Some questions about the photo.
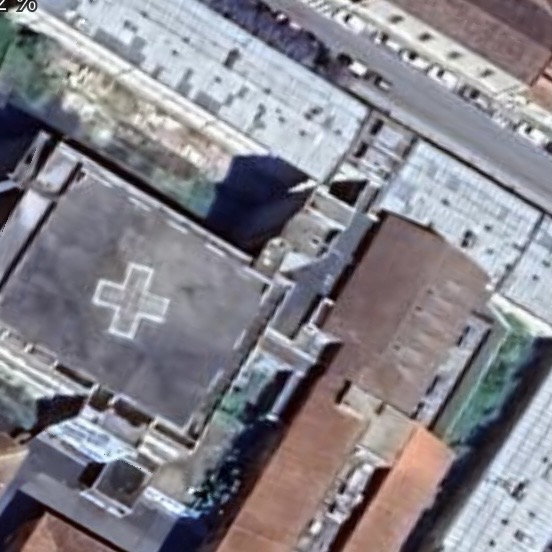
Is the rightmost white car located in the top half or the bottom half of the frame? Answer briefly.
top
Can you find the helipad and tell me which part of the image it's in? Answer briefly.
left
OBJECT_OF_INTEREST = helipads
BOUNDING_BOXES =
[0,159,271,437]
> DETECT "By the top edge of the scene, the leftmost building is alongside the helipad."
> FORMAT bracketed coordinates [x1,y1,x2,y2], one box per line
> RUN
[0,0,368,192]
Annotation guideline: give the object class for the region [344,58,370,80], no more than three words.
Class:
vehicle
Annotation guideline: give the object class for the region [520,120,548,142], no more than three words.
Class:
car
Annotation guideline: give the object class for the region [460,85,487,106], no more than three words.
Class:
car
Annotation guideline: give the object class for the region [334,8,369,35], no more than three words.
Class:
vehicle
